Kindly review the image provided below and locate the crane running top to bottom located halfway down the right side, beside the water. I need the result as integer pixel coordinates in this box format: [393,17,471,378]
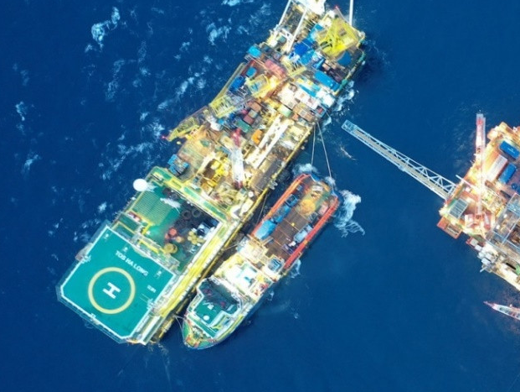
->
[471,114,493,229]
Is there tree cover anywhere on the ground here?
No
